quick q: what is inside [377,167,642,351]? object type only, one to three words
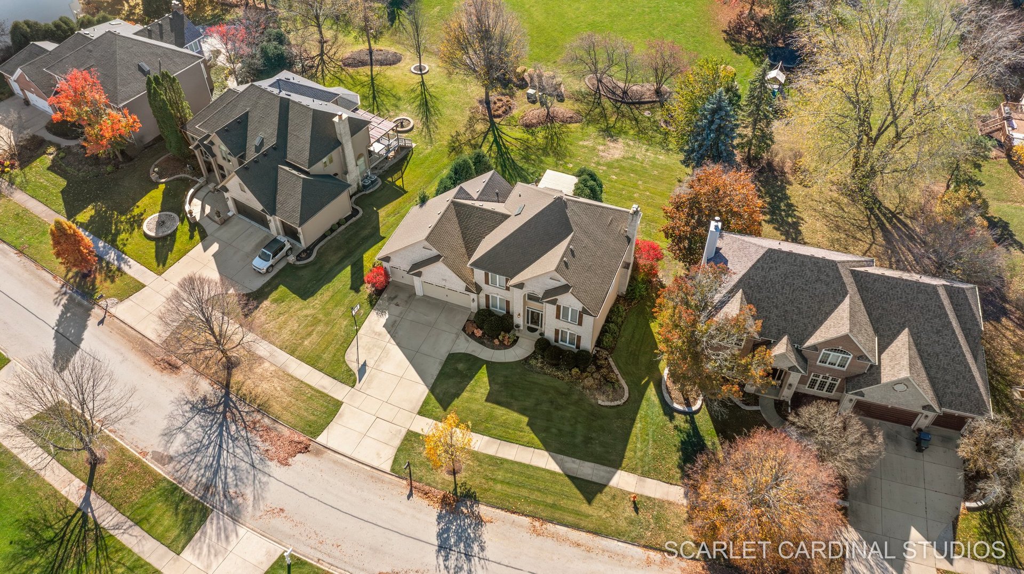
house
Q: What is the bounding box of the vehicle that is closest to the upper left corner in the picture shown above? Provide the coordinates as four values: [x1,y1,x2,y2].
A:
[251,233,294,271]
